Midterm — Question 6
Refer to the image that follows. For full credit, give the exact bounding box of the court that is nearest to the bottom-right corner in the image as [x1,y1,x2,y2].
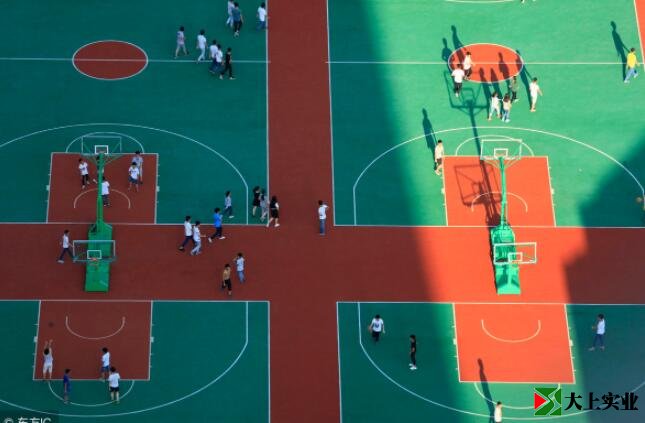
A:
[337,302,645,423]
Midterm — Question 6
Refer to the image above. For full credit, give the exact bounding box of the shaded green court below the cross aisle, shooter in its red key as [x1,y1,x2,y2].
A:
[0,300,270,423]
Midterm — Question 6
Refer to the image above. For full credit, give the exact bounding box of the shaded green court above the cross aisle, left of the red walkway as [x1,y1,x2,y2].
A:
[0,0,270,225]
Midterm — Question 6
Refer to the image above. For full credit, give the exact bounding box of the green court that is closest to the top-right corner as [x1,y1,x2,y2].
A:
[327,0,645,227]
